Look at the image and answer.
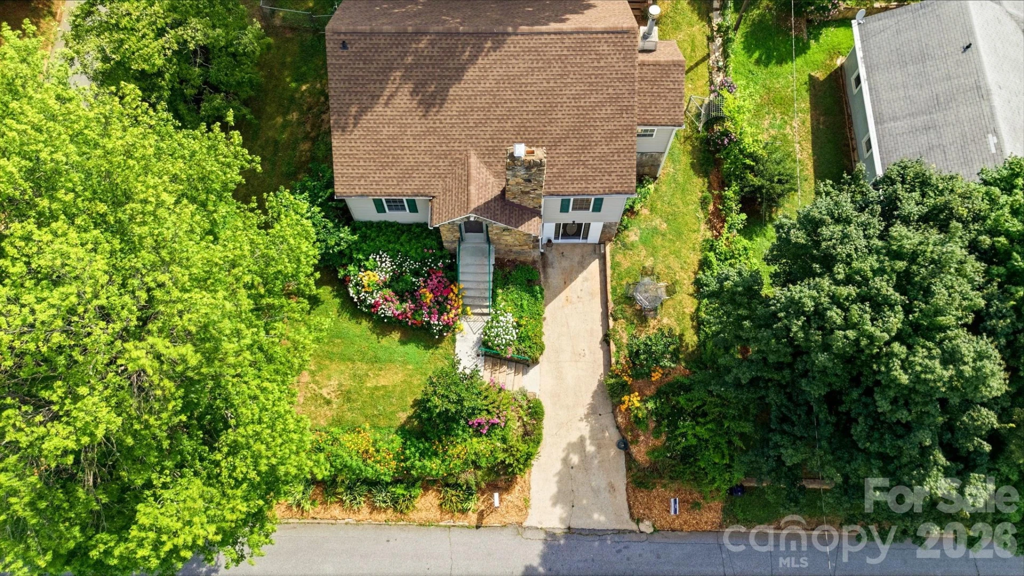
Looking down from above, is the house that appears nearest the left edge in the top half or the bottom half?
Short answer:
top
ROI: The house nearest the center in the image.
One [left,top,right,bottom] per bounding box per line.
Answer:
[327,0,684,262]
